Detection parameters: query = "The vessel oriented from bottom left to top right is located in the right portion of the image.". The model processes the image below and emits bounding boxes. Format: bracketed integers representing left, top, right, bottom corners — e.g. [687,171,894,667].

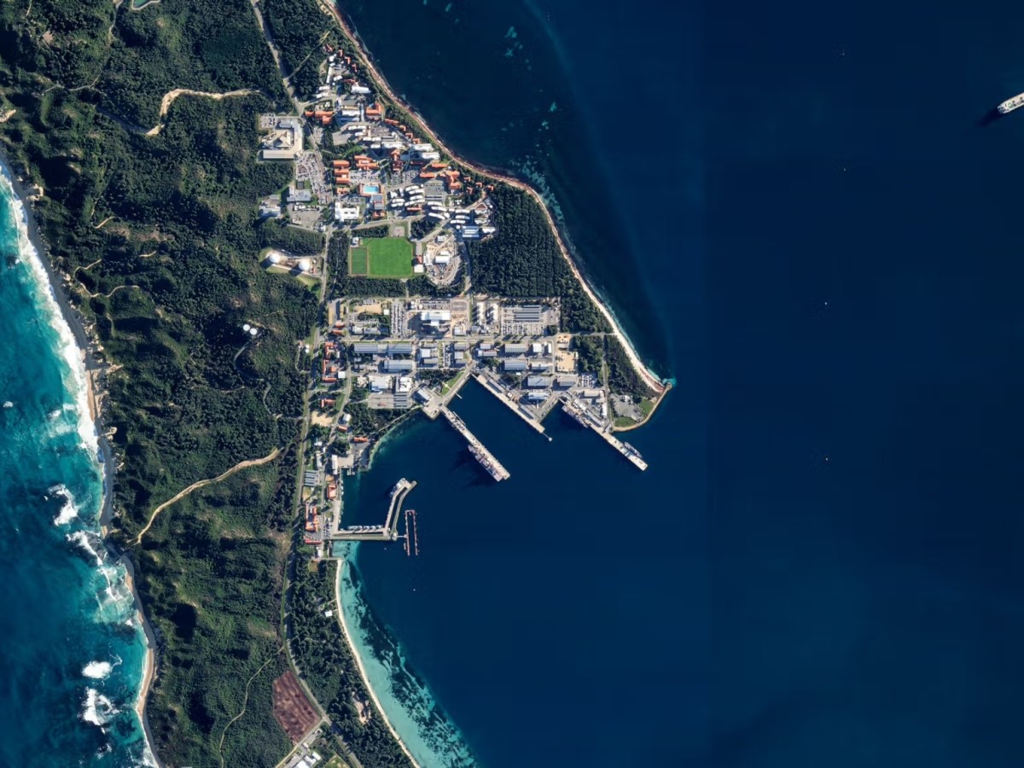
[1000,93,1024,113]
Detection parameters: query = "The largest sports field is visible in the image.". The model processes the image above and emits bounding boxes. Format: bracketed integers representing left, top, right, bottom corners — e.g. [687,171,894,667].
[368,237,413,277]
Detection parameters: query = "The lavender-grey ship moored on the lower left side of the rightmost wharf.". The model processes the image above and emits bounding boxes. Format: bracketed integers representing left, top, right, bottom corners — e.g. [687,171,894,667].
[562,406,589,428]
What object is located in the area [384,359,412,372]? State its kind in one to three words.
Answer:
building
